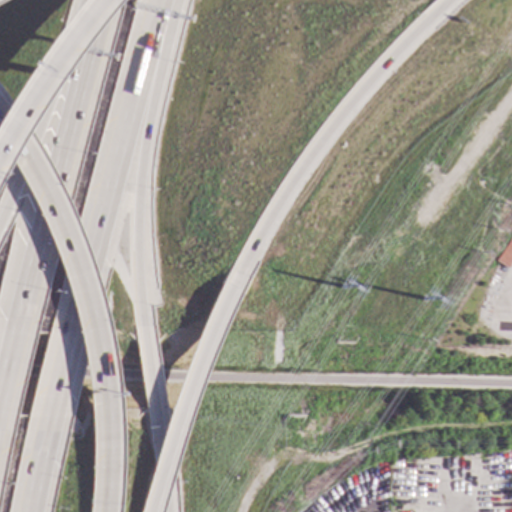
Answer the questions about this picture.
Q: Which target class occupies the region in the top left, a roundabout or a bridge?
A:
bridge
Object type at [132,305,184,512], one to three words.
bridge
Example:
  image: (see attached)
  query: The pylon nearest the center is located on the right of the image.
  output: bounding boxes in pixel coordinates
[341,282,374,296]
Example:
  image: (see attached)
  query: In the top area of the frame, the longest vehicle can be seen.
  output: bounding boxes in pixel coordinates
[131,39,149,98]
